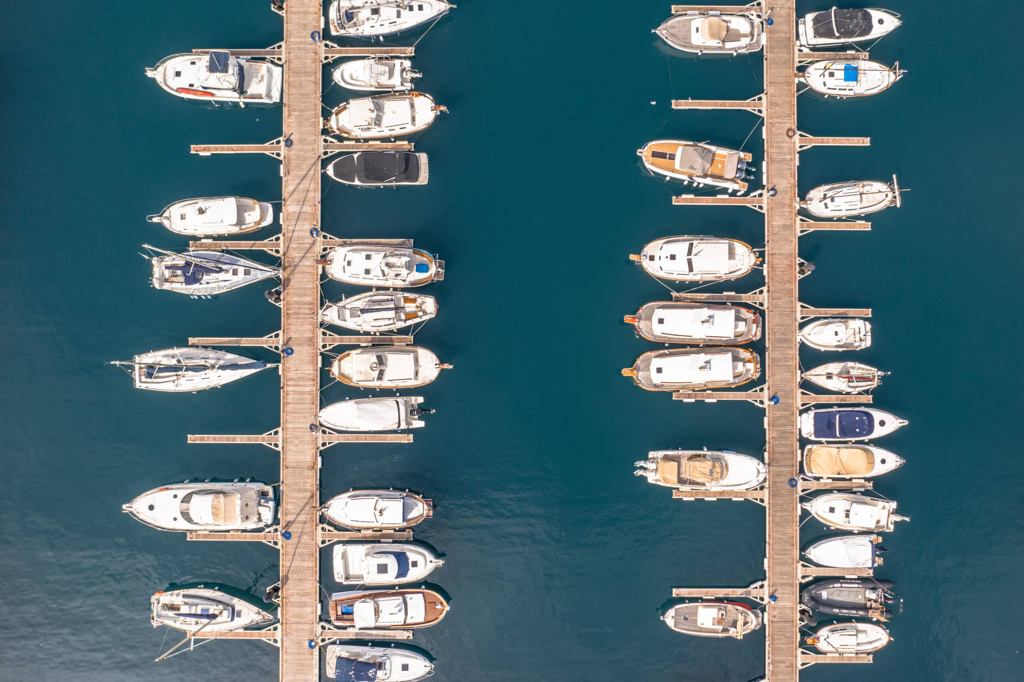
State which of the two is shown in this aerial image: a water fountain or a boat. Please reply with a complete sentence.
Visible in the photo is a boat.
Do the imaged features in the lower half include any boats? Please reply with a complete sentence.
Yes, a boat appears in the lower half.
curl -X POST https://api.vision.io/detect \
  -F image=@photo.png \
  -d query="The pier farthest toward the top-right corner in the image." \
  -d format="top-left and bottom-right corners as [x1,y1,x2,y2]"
[795,43,870,68]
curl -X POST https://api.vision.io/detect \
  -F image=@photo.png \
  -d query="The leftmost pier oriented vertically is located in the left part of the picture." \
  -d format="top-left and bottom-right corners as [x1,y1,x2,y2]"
[264,0,326,682]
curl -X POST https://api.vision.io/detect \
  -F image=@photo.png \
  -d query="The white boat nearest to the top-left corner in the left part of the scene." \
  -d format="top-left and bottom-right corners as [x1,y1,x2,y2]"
[145,52,283,108]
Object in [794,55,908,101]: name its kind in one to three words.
boat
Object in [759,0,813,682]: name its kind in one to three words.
pier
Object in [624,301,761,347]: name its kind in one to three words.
boat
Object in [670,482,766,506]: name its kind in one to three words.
pier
